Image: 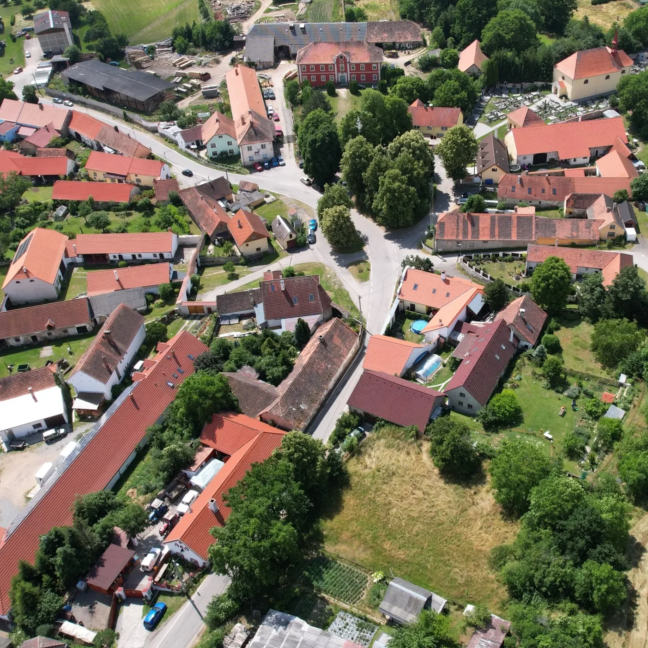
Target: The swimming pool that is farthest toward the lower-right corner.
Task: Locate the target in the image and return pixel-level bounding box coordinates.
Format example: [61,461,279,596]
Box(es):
[417,356,449,380]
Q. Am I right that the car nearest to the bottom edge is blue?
Yes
